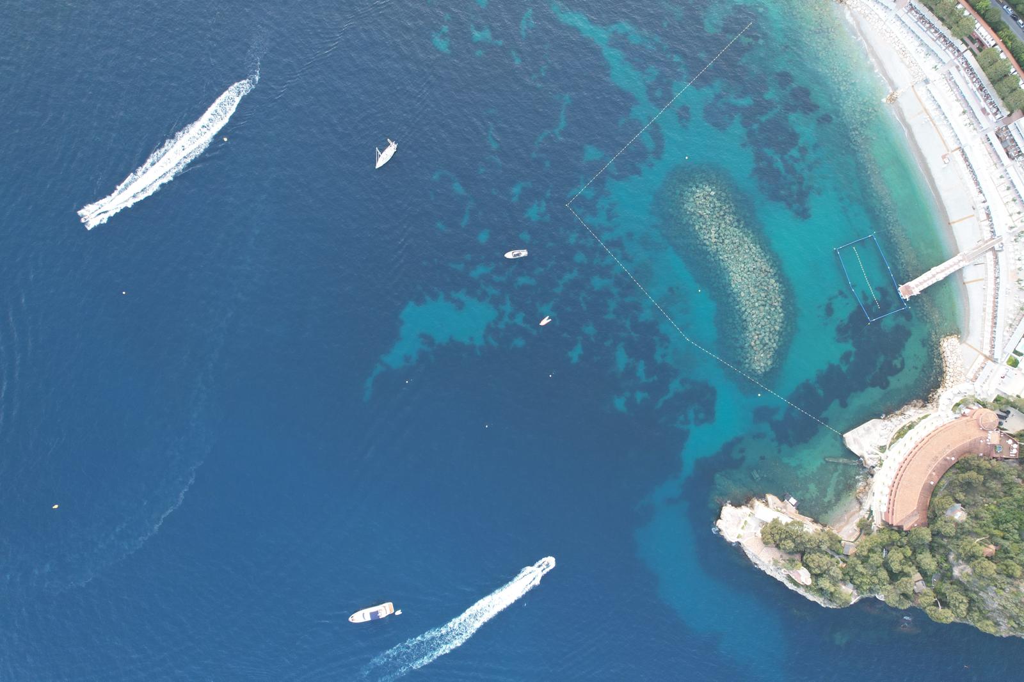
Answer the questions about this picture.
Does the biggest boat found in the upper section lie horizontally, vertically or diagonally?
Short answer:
diagonally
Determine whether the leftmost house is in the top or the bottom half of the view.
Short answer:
bottom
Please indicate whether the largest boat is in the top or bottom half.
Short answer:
bottom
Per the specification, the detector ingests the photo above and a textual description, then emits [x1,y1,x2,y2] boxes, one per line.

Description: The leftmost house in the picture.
[750,499,800,525]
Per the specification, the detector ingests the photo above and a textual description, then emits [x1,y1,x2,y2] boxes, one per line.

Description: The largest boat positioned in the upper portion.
[374,138,395,168]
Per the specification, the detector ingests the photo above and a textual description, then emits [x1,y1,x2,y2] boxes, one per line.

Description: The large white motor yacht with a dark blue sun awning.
[346,602,396,624]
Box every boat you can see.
[503,249,528,258]
[539,315,551,325]
[542,561,552,569]
[346,602,396,624]
[374,138,395,168]
[77,214,90,222]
